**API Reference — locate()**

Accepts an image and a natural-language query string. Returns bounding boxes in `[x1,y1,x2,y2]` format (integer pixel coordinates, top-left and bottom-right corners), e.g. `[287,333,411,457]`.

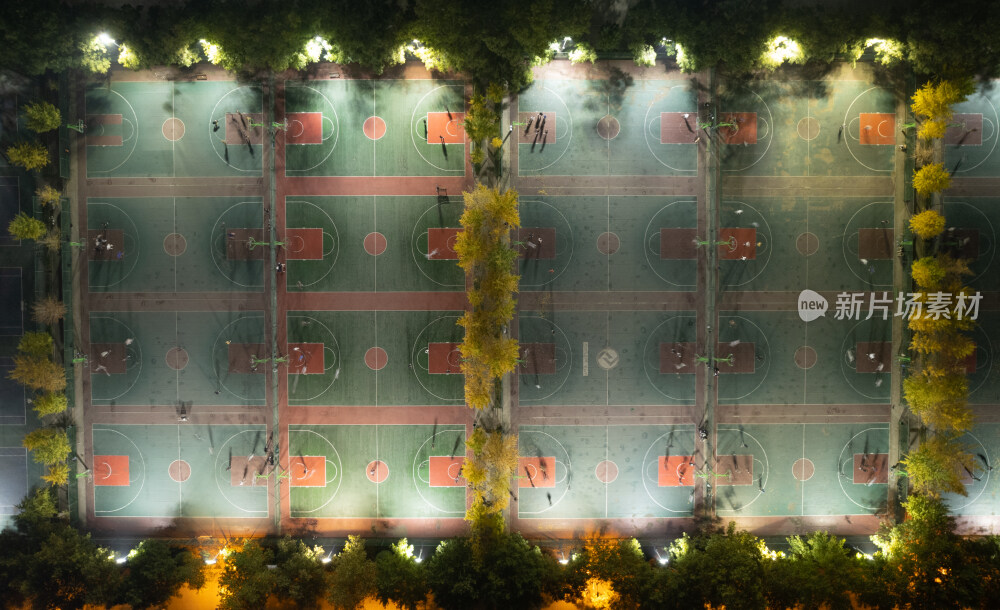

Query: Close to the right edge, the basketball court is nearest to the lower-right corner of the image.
[938,425,1000,518]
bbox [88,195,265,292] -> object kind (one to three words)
basketball court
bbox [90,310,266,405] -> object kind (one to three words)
basketball court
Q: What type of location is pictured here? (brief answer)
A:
sports ground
